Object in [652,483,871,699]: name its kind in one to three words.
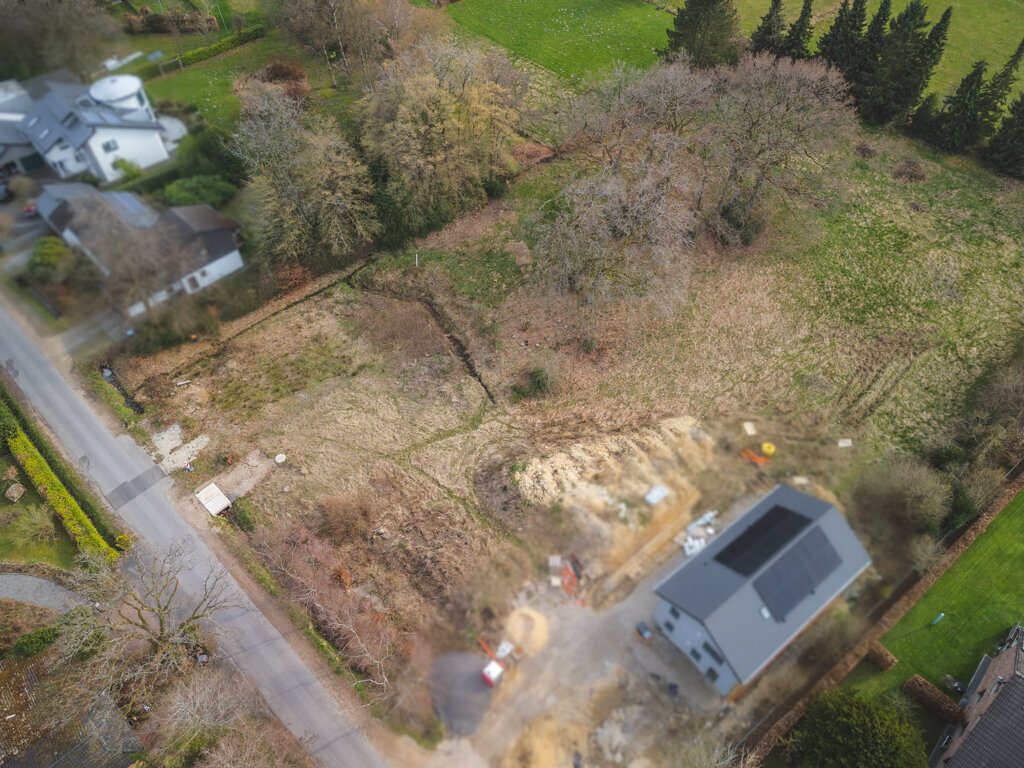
house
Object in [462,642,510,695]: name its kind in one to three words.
work vehicle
